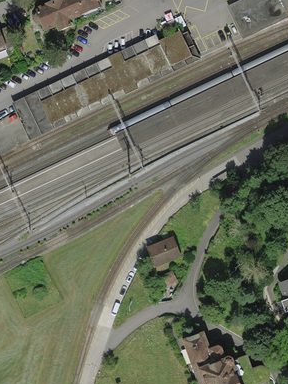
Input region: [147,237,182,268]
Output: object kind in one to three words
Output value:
house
